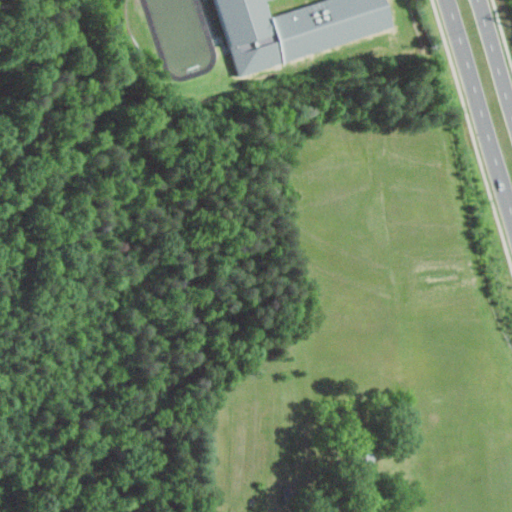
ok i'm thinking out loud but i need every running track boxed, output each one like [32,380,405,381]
[142,0,216,82]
